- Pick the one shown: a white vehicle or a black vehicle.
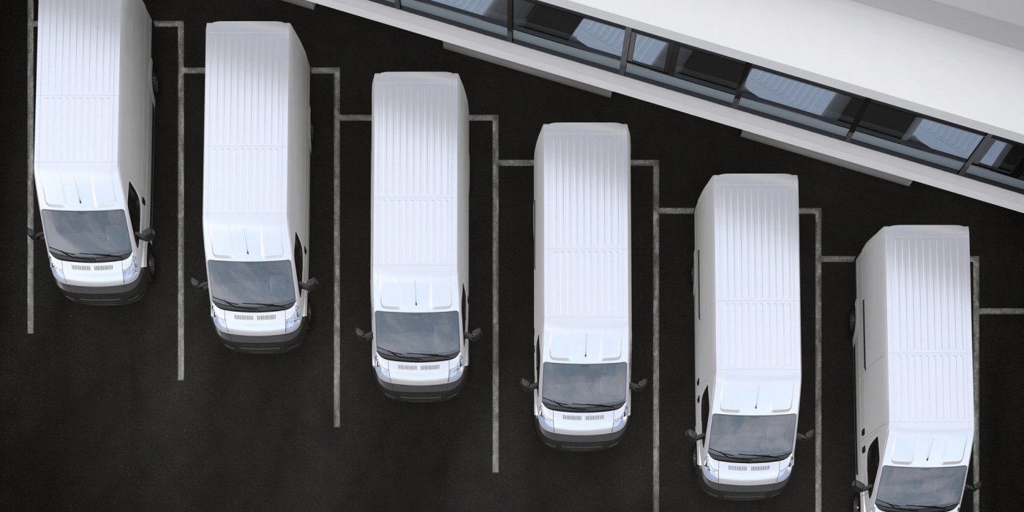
white vehicle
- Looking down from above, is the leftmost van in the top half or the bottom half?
top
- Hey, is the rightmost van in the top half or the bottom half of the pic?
bottom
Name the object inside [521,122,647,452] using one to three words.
van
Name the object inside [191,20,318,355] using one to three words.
van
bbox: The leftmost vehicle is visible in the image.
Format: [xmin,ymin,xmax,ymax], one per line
[25,0,154,306]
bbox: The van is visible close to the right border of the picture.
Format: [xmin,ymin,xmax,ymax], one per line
[853,226,982,512]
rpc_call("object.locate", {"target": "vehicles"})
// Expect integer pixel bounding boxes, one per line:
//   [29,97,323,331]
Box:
[686,174,813,501]
[521,122,647,452]
[356,71,482,403]
[191,20,318,355]
[25,0,154,306]
[853,226,982,512]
